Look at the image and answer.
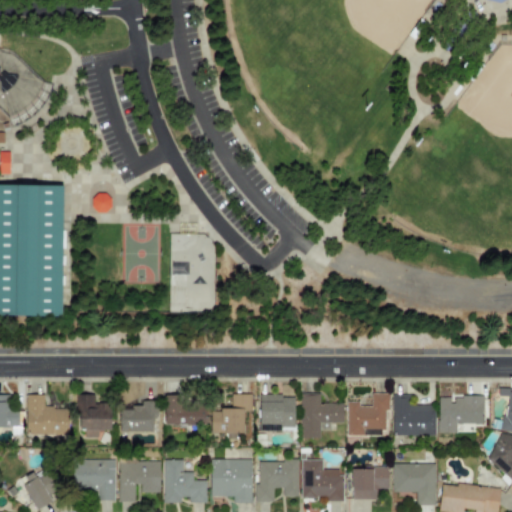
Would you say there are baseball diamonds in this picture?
Yes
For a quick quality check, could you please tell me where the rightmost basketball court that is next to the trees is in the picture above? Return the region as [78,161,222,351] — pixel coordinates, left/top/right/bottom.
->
[124,224,161,283]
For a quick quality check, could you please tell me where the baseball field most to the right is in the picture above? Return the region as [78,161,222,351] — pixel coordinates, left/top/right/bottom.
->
[341,44,512,256]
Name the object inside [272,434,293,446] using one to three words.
swimming pool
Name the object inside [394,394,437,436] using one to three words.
house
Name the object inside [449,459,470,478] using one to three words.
swimming pool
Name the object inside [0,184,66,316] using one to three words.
building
